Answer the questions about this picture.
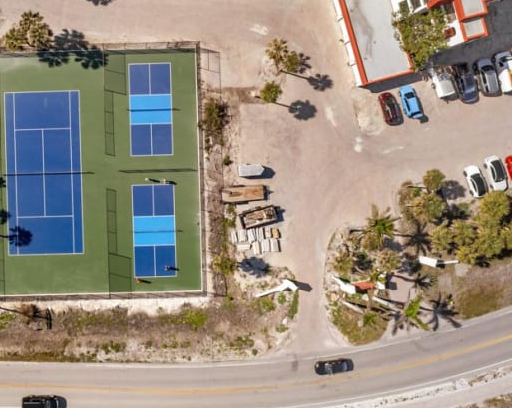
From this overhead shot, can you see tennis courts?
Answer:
Yes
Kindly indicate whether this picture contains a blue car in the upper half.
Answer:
Yes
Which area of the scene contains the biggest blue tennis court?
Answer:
left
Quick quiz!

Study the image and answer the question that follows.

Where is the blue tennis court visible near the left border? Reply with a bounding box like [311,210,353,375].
[4,91,88,256]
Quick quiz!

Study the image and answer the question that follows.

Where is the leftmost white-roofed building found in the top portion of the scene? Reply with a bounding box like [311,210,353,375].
[326,0,415,86]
